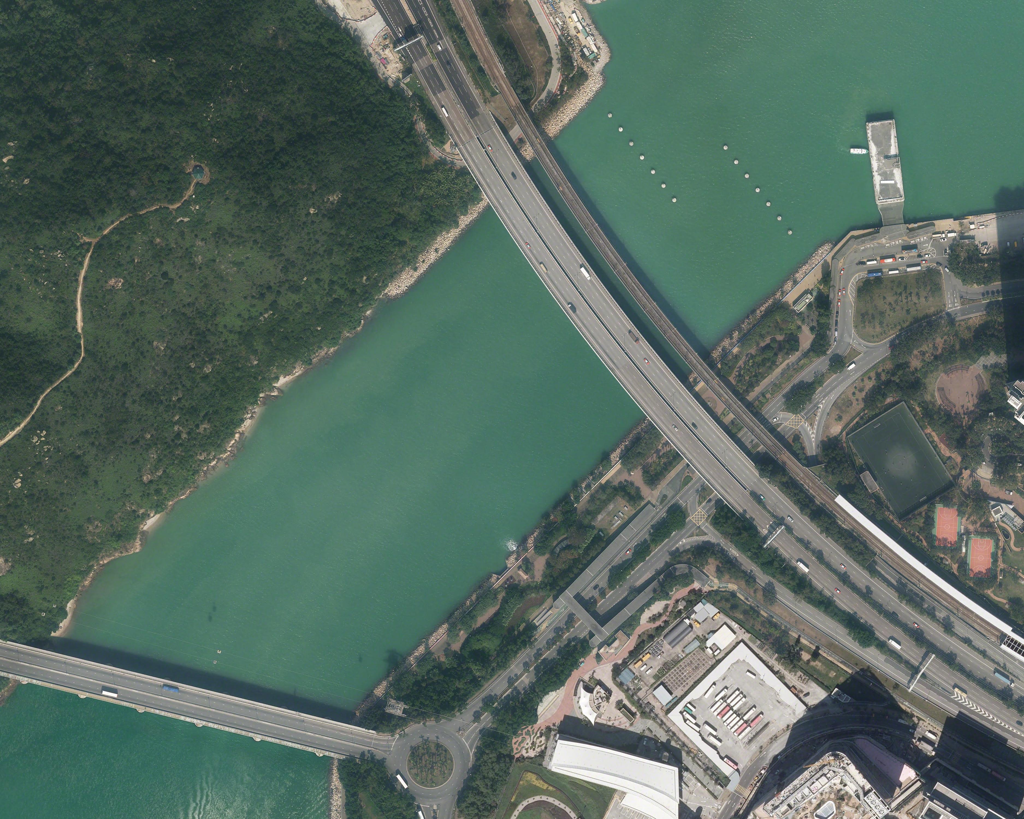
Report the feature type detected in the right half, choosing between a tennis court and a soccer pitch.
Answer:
soccer pitch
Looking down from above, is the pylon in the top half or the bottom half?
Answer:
bottom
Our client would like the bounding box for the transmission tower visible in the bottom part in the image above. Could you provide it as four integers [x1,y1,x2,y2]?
[383,695,409,718]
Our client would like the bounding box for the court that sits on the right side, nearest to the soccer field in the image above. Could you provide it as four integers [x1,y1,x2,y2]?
[932,504,962,547]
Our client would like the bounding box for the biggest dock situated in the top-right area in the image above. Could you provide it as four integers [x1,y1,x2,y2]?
[866,118,905,204]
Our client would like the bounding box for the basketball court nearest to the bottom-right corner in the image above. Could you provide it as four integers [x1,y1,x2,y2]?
[967,535,997,580]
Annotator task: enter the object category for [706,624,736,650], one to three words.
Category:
building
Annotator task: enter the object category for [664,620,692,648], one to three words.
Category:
greenhouse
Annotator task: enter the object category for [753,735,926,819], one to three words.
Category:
building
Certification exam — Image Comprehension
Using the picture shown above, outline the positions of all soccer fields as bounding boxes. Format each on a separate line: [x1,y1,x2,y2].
[846,401,955,520]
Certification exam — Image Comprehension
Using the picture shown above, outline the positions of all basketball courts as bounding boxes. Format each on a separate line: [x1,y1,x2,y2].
[932,504,962,547]
[967,535,997,580]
